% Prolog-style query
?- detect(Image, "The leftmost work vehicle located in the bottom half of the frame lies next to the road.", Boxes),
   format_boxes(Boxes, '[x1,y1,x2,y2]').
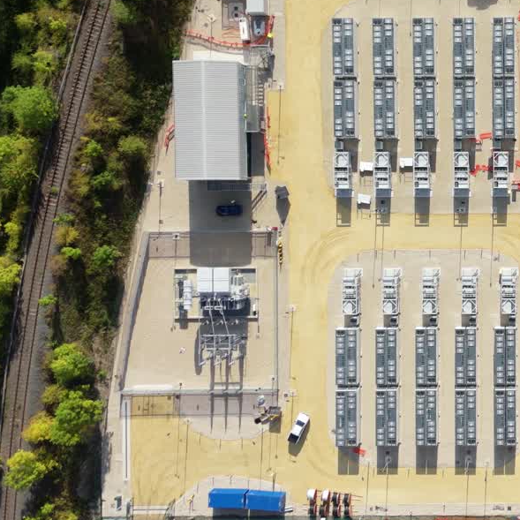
[256,406,280,428]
